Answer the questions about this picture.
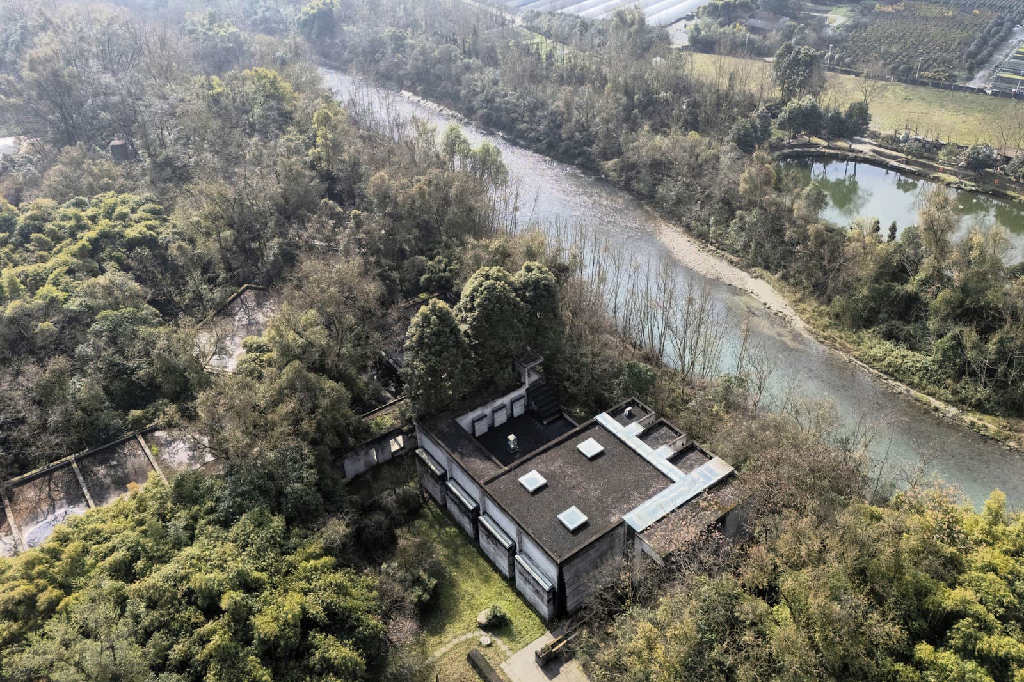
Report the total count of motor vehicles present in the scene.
zero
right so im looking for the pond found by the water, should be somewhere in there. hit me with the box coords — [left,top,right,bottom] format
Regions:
[771,157,1024,255]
